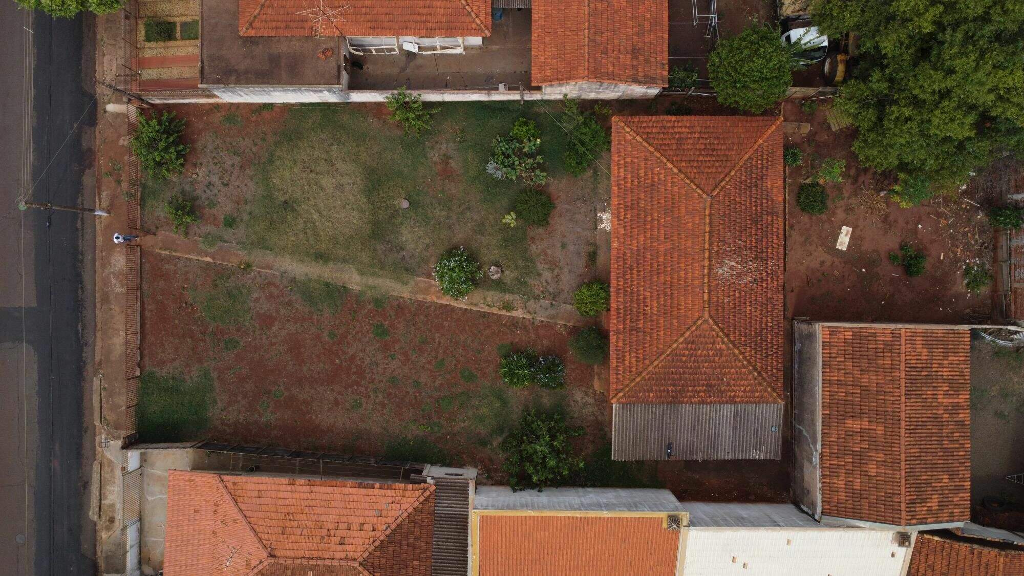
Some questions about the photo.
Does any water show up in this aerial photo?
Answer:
No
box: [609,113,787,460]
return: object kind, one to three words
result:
house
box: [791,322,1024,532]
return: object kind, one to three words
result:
house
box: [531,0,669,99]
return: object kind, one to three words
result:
shed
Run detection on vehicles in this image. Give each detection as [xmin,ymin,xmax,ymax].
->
[821,30,877,87]
[762,0,825,72]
